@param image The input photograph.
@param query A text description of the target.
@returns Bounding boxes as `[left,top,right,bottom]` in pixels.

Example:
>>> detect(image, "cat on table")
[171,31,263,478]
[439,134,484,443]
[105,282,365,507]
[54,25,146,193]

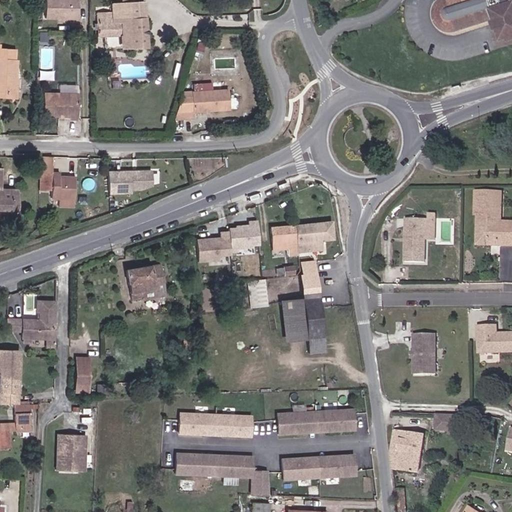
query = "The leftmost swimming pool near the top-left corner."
[39,46,54,70]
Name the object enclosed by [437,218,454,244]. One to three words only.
swimming pool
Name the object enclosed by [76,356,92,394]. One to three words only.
house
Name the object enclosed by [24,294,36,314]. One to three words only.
swimming pool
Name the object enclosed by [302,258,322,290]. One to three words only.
building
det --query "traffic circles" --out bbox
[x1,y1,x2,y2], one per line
[302,78,460,206]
